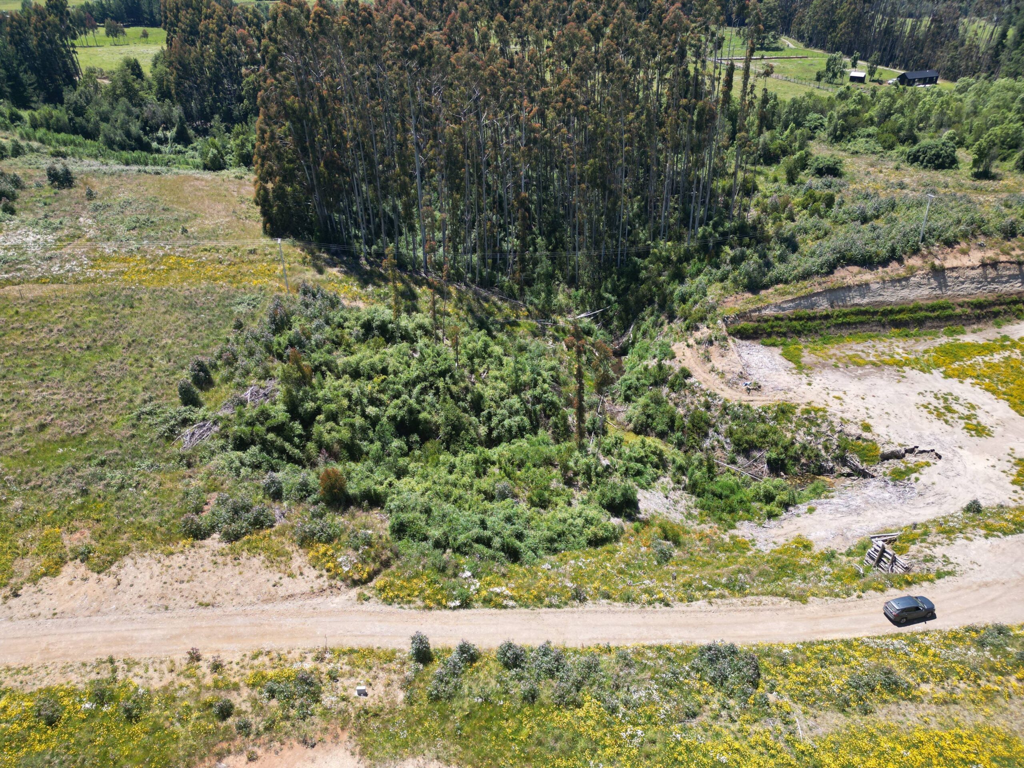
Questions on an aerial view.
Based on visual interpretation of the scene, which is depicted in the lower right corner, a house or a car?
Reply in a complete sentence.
Visible in the lower right corner is a car.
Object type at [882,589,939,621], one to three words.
car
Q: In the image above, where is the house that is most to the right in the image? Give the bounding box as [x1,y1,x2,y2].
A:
[897,62,949,87]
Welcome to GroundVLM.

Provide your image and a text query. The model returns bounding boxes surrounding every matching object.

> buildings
[897,62,949,87]
[846,67,866,82]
